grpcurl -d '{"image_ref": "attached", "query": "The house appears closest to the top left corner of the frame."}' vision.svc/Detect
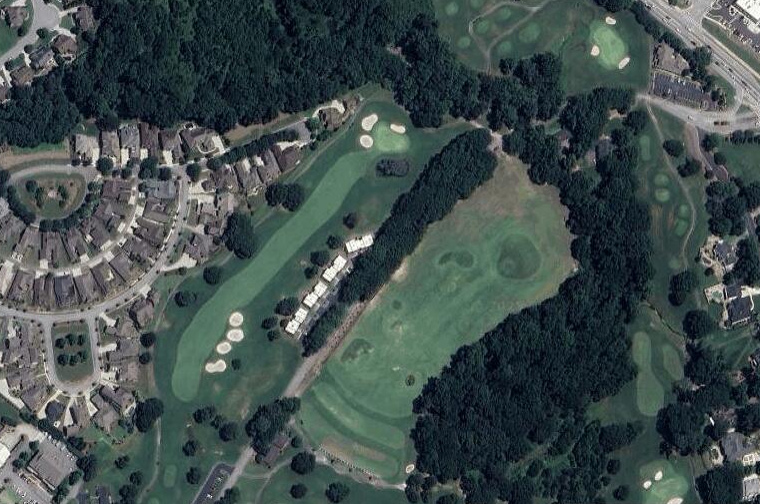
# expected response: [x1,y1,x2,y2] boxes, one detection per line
[3,7,28,26]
